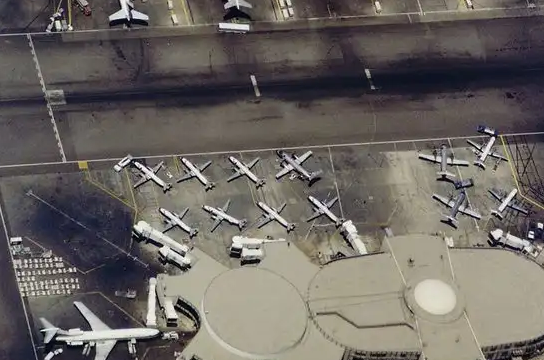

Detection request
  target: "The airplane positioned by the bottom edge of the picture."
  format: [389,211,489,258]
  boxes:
[42,301,161,360]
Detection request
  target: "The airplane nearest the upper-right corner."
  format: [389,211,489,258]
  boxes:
[467,137,508,166]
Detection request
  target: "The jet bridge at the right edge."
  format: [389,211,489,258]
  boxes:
[489,230,541,261]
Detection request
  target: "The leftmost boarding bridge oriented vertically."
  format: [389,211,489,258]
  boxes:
[142,274,158,328]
